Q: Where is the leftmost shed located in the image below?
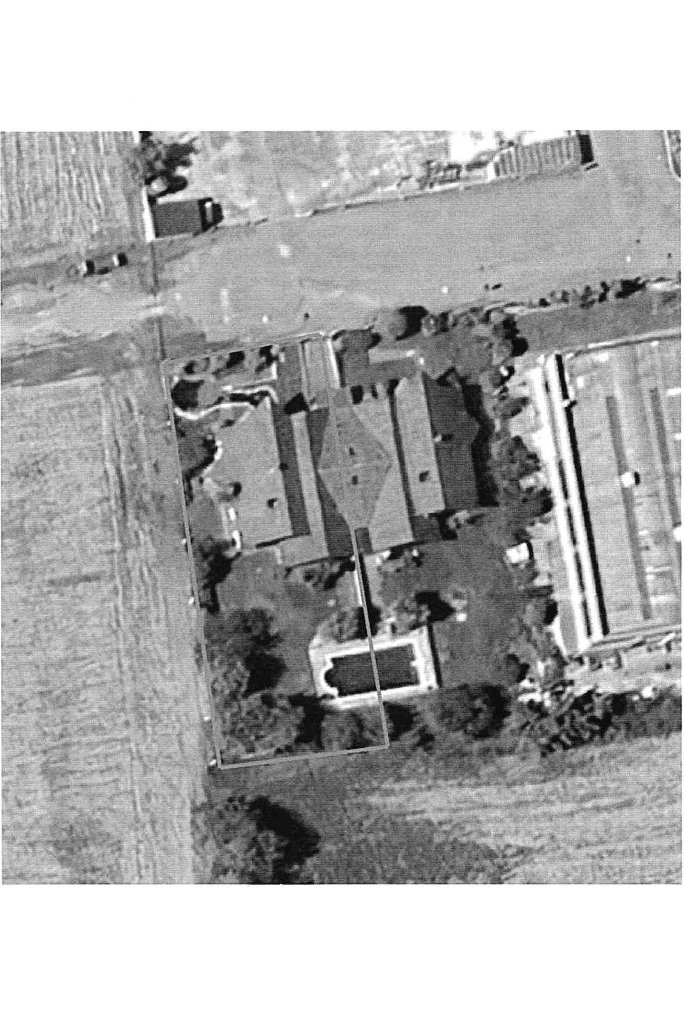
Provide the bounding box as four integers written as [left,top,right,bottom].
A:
[141,186,204,243]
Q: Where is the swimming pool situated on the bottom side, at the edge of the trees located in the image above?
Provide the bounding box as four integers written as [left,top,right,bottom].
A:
[309,625,438,706]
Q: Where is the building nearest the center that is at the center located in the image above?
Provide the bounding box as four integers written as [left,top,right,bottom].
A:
[218,372,482,567]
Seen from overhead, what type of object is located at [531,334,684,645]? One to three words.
warehouse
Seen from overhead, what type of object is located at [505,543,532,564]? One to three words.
shed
